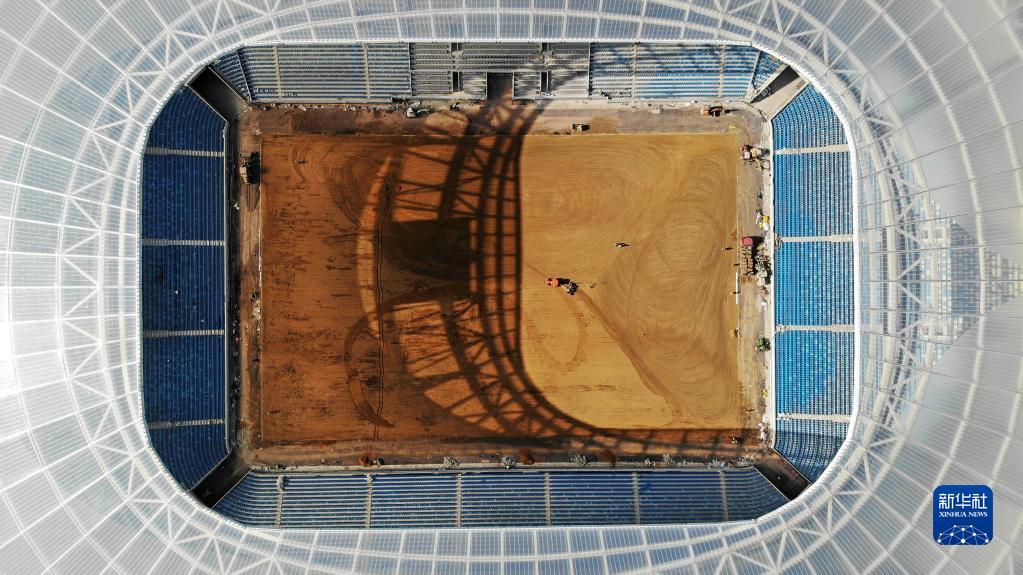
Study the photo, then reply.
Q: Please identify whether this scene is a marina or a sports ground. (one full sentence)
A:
This image shows a sports ground.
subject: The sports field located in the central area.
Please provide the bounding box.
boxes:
[260,134,740,442]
